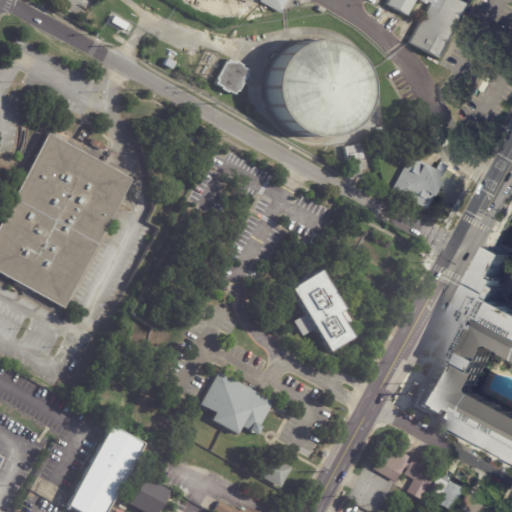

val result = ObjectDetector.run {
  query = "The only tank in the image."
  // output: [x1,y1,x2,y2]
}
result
[266,38,381,136]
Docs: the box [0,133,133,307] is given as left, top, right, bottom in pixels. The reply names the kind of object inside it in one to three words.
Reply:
building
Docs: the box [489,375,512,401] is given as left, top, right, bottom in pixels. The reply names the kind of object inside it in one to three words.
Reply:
swimming pool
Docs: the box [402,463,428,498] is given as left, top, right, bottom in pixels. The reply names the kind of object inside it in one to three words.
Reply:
house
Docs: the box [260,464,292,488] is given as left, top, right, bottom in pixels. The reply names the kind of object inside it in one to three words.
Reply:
house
